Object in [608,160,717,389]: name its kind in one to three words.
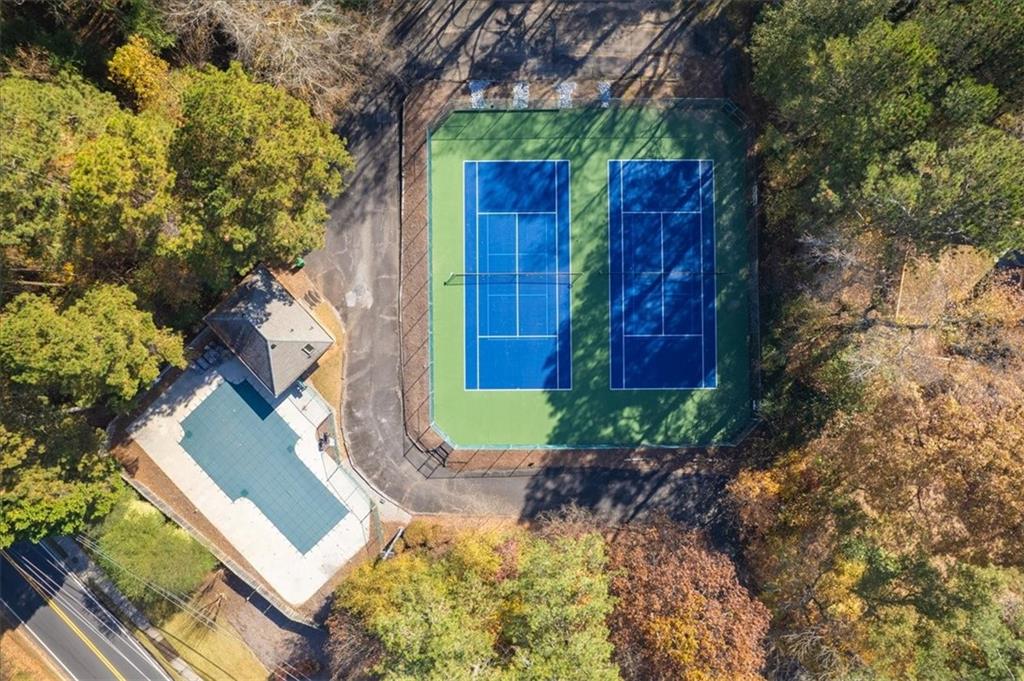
tennis court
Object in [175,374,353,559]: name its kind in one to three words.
swimming pool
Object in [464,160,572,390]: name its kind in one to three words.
tennis court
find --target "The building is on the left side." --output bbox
[202,263,336,397]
